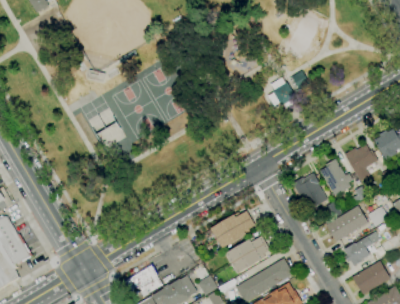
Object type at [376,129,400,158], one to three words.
house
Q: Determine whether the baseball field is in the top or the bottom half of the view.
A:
top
